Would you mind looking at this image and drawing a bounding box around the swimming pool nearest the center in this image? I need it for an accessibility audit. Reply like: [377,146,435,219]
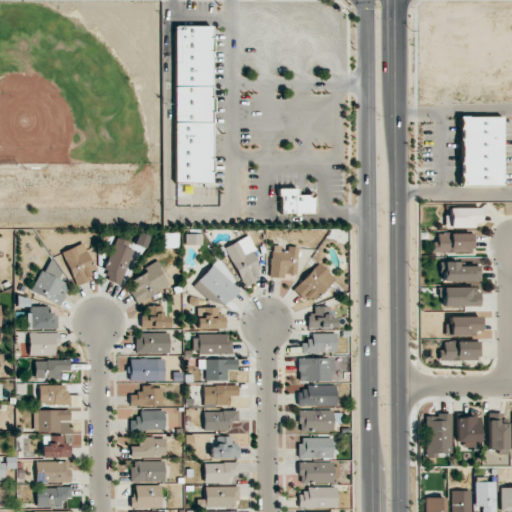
[212,232,231,244]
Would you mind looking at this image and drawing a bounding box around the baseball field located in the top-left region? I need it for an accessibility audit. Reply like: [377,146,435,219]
[0,3,150,166]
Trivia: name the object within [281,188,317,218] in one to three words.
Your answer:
building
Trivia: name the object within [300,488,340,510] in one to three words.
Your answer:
house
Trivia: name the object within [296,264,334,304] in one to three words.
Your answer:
house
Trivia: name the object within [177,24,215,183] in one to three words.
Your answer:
building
